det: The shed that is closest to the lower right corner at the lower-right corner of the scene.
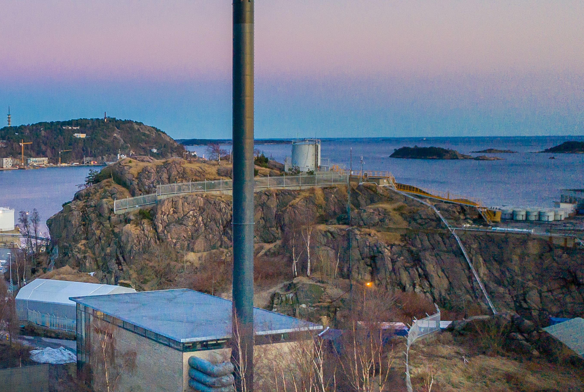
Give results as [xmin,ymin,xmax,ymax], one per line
[543,316,584,359]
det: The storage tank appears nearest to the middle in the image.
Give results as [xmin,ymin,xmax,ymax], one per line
[291,138,323,169]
